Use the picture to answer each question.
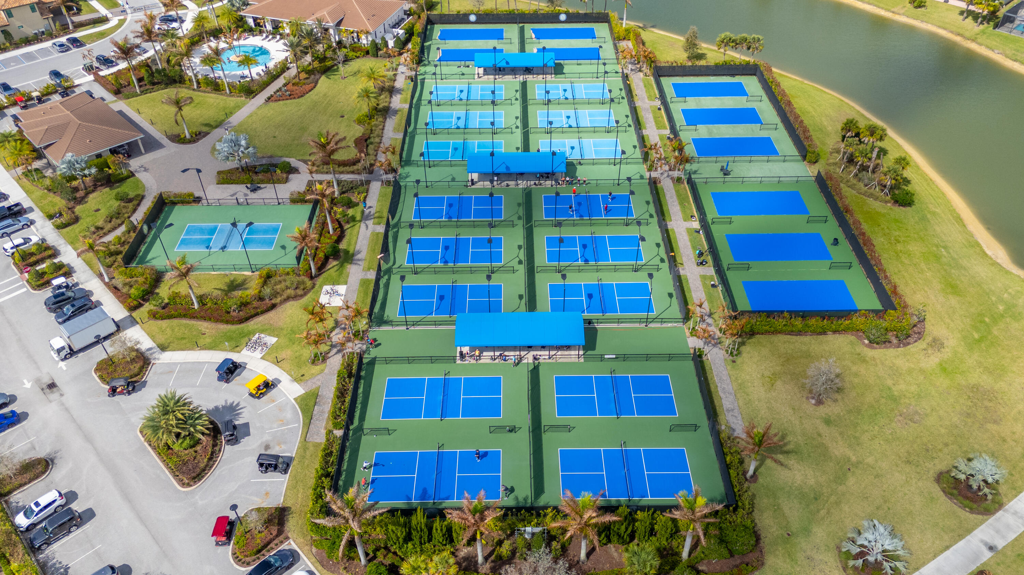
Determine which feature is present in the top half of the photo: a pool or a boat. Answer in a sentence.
There is a pool in the top half of the photo.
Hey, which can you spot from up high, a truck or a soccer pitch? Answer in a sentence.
Looking from above, you can make out a truck.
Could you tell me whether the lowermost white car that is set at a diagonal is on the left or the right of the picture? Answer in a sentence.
The lowermost white car that is set at a diagonal sits on the left side.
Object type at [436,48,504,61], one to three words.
sports court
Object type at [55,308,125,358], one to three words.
truck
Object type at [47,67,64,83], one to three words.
car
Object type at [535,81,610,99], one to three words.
sports court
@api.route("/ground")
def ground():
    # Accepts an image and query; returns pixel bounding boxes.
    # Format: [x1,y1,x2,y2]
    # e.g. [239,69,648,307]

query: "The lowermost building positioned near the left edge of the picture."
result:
[15,91,147,174]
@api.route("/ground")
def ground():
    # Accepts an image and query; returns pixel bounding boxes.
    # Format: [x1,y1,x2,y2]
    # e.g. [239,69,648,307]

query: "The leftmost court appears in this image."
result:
[174,217,283,252]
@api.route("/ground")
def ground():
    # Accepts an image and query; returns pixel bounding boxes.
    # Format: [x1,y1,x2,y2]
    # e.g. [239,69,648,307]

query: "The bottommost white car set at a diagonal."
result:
[14,489,69,532]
